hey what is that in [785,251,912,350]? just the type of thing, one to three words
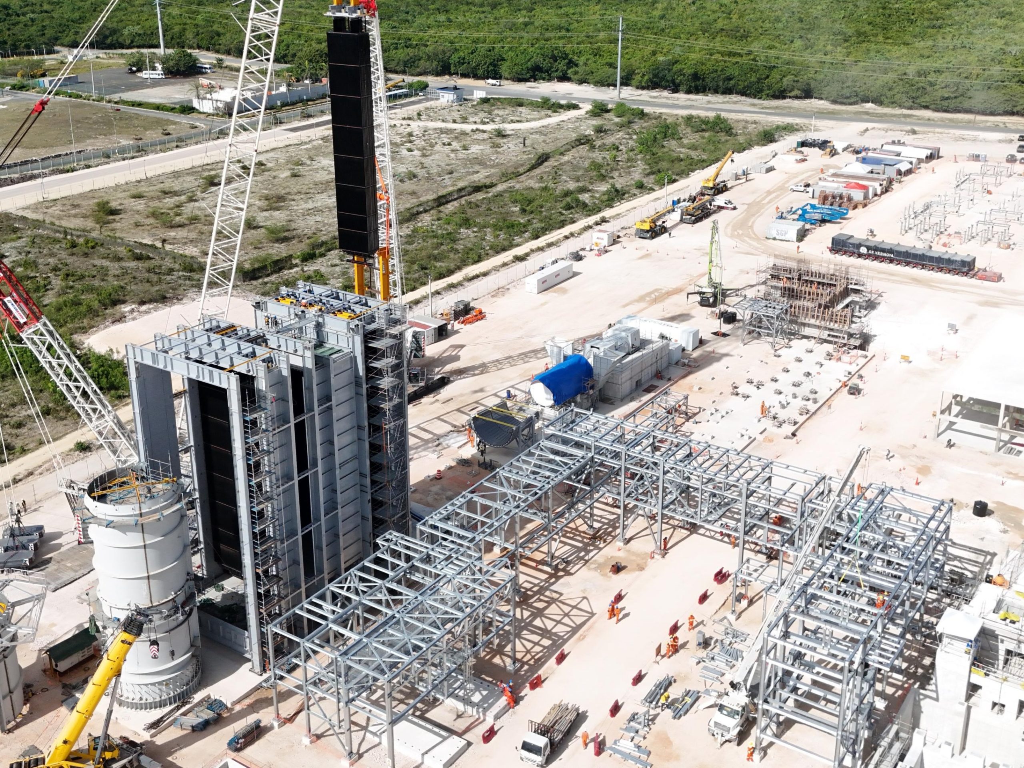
building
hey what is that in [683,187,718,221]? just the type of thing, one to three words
crane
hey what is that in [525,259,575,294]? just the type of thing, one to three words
shipping container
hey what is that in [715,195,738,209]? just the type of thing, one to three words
vehicle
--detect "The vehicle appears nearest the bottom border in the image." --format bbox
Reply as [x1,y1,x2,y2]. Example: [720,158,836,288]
[518,698,586,765]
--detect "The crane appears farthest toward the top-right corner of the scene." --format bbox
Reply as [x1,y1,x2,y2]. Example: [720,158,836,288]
[706,127,736,193]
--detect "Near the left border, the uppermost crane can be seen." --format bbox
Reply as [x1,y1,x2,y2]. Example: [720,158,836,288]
[0,0,302,560]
